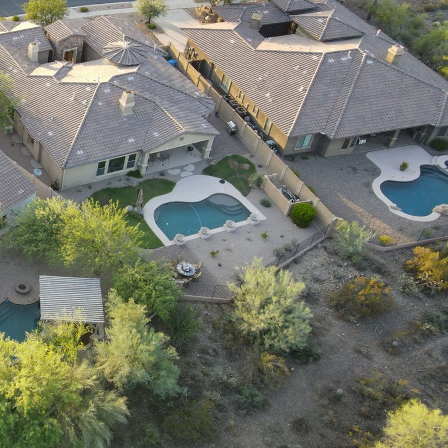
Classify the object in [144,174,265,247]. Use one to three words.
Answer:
swimming pool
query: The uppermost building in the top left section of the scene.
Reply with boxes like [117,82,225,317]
[0,13,222,185]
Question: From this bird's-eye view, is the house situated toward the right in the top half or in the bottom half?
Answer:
top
